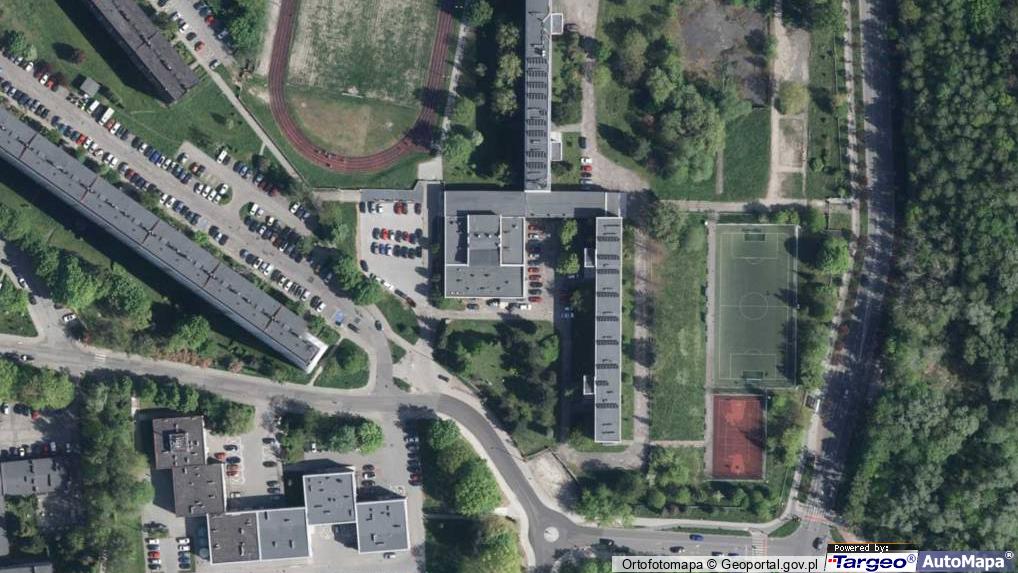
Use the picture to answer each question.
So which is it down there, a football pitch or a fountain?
football pitch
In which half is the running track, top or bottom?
top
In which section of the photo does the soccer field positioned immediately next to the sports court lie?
right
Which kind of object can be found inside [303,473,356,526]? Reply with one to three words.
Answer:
building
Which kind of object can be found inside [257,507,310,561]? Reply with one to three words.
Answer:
building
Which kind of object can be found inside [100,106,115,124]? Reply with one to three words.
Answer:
vehicle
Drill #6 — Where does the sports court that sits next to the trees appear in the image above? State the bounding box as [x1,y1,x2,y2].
[713,395,765,479]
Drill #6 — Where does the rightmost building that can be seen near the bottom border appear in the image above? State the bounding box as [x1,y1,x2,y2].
[356,498,411,554]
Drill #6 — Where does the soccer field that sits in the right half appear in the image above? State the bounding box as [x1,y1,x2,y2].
[716,225,797,388]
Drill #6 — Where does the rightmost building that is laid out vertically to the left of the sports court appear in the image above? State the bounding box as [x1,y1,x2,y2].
[582,217,621,446]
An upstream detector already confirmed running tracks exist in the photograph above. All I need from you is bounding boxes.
[269,0,454,171]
